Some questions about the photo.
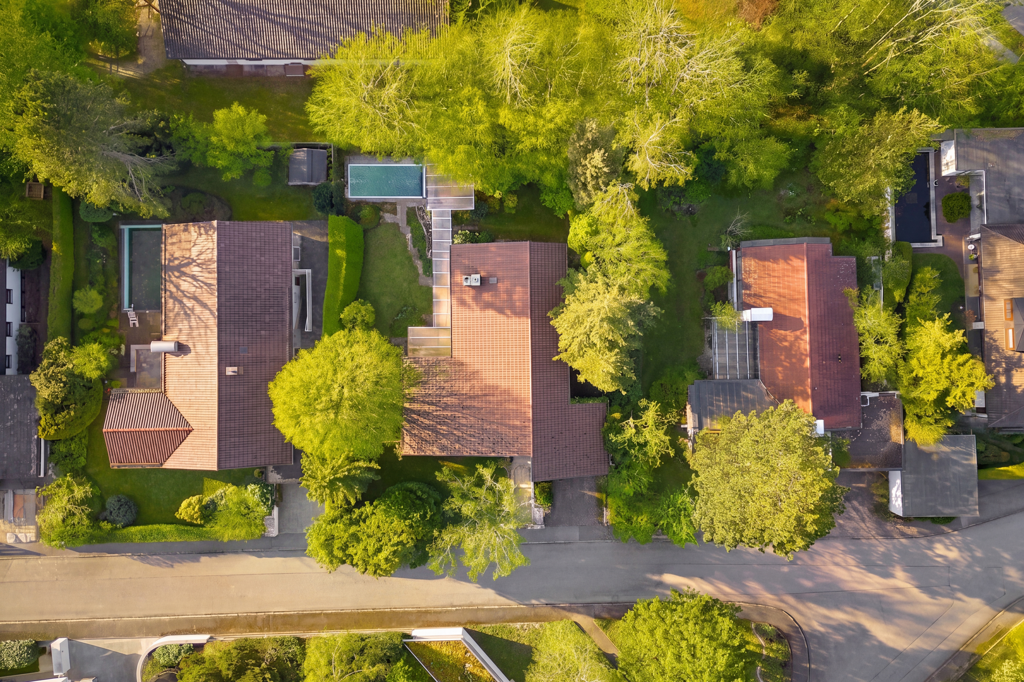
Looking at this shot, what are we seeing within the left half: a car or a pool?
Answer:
pool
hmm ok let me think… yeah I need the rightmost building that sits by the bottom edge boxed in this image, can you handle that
[403,625,513,682]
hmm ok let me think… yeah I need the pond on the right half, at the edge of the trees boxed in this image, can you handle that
[893,146,944,246]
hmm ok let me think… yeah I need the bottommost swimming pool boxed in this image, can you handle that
[117,224,161,312]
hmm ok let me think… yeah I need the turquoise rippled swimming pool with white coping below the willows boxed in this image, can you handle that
[347,162,426,199]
